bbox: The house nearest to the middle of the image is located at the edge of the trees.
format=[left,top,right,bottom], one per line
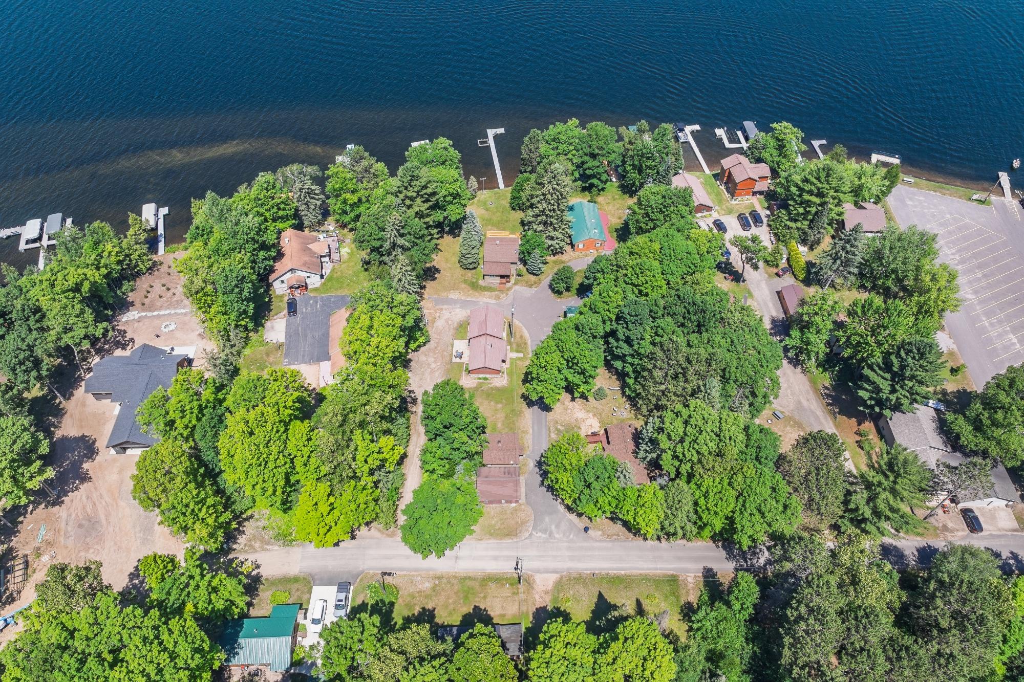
[467,303,508,378]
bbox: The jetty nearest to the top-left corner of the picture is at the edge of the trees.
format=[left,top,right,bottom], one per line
[16,218,72,272]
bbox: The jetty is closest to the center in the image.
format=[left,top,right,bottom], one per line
[490,128,505,189]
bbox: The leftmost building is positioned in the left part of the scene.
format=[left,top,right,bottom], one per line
[79,342,190,455]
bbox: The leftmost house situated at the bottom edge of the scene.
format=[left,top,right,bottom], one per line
[217,605,311,676]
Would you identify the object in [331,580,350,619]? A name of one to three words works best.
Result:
vehicle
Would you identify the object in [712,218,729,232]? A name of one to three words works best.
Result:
car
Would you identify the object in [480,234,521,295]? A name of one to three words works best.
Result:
house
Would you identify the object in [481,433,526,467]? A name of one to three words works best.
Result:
building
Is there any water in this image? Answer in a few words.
Yes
